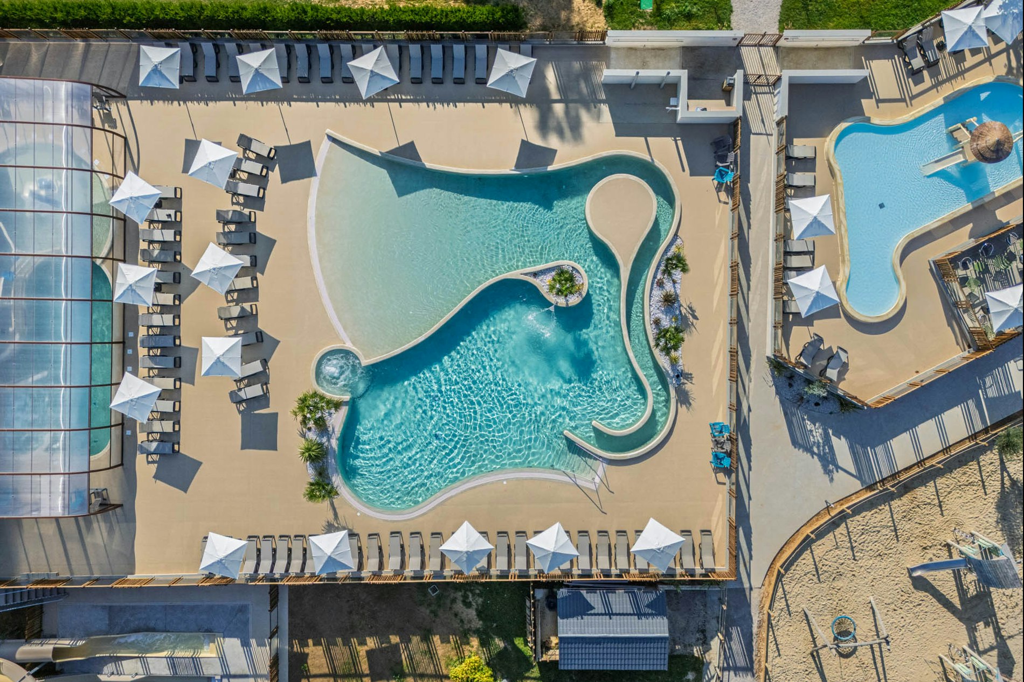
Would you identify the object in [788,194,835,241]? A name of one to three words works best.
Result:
umbrella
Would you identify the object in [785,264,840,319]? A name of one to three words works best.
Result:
umbrella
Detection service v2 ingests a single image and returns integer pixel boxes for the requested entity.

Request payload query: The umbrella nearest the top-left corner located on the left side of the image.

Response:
[138,45,185,90]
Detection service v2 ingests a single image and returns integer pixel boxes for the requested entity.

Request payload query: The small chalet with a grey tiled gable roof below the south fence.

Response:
[558,583,671,671]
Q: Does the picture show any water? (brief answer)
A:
Yes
